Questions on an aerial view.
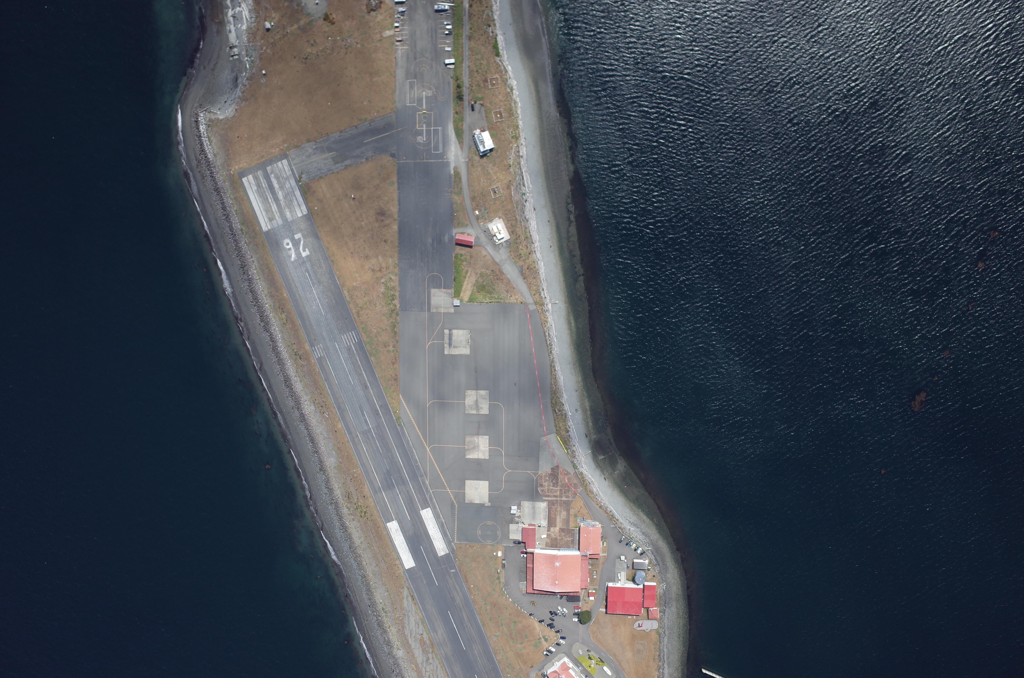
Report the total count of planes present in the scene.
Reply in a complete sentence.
No planes are visible.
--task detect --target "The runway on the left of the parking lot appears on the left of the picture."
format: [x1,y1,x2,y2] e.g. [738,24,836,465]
[238,150,504,678]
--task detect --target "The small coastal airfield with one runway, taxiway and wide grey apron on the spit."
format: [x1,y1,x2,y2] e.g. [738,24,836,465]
[238,0,583,678]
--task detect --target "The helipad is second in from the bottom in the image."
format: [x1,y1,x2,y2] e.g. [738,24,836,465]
[465,435,489,459]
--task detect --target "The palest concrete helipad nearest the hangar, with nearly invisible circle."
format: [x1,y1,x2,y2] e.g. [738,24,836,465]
[465,480,488,503]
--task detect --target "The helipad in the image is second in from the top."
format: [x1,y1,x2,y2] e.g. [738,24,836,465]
[444,330,470,354]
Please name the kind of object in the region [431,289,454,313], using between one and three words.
helipad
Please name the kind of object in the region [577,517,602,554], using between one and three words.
building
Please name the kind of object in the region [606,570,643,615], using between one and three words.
building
